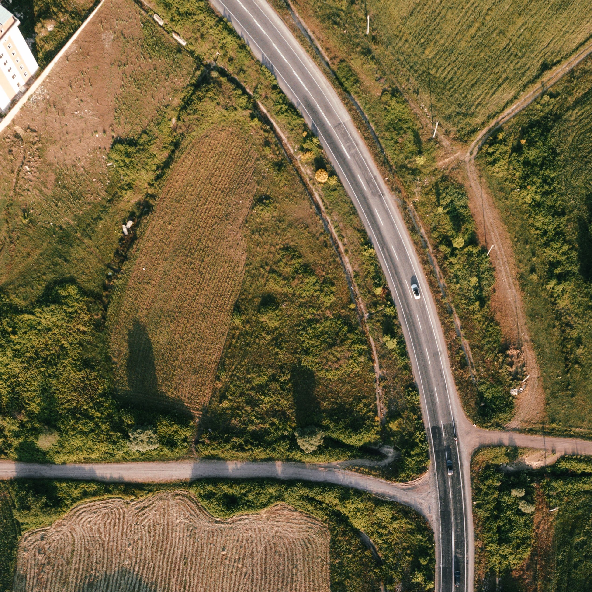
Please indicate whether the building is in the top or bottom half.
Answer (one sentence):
Seen from above, the building lies in the top half of the view.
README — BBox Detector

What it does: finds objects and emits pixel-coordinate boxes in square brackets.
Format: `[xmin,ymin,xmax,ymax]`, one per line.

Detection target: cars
[446,459,453,474]
[411,282,421,299]
[454,571,461,587]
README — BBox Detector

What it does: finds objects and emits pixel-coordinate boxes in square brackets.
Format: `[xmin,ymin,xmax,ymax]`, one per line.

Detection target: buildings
[0,17,39,113]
